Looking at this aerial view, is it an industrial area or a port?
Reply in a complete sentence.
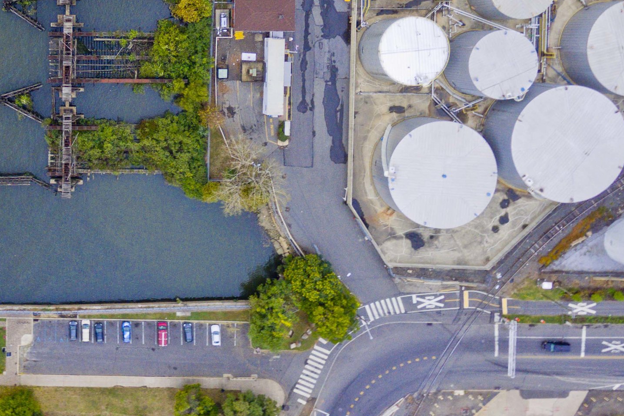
This looks like an industrial area.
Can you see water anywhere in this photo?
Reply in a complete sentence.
Yes, there is water in the image.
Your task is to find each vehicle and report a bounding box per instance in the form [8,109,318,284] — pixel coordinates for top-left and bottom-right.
[81,319,90,343]
[69,320,79,341]
[94,322,104,344]
[542,342,571,353]
[211,325,221,346]
[184,323,193,343]
[157,322,168,348]
[122,320,132,343]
